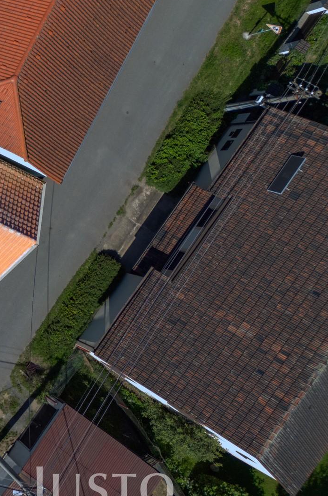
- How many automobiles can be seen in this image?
0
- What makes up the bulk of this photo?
buildings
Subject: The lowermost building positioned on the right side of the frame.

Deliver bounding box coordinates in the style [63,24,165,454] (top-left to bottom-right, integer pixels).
[74,107,328,494]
